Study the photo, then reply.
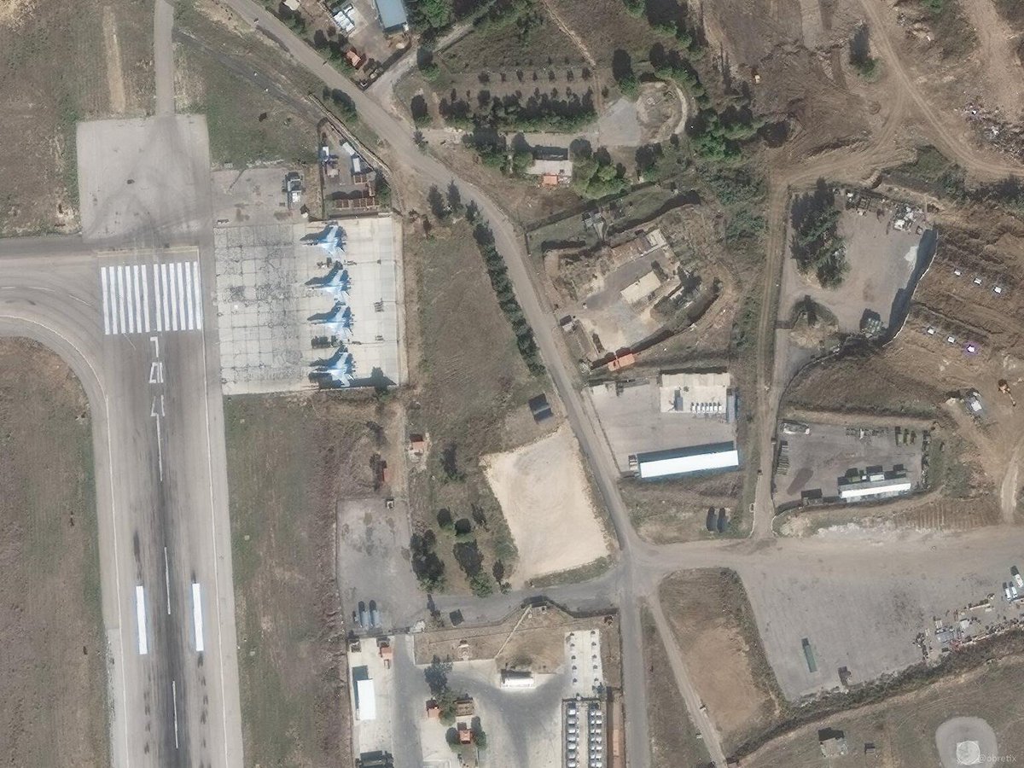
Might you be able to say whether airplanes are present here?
Yes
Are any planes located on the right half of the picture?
No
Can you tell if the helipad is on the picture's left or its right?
right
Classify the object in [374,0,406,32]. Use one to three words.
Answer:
building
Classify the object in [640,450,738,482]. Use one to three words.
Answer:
hangar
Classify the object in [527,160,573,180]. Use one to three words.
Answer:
house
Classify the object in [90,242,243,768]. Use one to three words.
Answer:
runway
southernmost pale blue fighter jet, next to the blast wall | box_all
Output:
[309,354,359,387]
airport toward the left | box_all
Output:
[0,0,407,768]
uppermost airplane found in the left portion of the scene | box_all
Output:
[300,227,349,259]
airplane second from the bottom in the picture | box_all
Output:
[307,307,356,339]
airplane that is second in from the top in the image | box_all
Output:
[304,270,353,302]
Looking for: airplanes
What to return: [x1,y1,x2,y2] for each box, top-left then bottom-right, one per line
[300,227,349,259]
[304,270,353,302]
[307,307,356,339]
[309,354,359,387]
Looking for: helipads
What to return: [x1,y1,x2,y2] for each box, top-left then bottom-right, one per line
[936,717,998,768]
